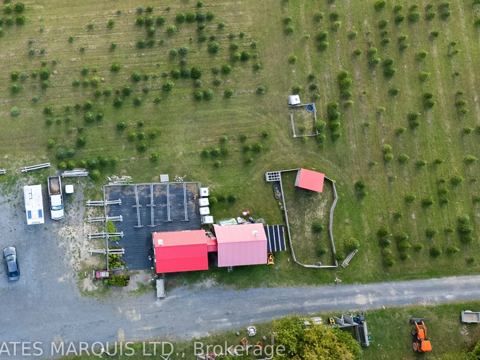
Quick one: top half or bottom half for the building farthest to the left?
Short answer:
bottom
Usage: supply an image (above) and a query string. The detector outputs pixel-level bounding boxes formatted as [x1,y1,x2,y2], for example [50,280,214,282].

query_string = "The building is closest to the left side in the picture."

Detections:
[154,229,208,273]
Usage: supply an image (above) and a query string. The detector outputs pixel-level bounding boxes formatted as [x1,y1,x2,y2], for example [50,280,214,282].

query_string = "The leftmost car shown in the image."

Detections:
[3,246,21,280]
